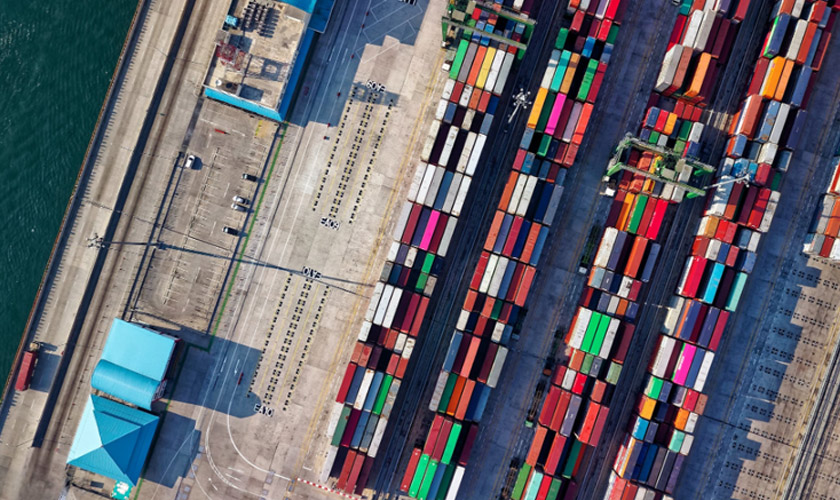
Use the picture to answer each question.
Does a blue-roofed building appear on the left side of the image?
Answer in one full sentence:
Yes, you'll find a blue-roofed building on the left side of the image.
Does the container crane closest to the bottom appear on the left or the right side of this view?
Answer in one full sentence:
It is on the right.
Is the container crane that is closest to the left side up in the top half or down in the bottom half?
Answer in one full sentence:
You can find the container crane that is closest to the left side in the top half.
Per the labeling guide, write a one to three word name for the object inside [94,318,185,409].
shed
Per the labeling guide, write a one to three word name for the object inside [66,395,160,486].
building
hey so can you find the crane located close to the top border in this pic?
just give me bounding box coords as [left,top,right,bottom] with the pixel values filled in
[439,0,538,74]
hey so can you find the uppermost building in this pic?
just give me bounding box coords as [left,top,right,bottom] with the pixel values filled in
[202,0,336,121]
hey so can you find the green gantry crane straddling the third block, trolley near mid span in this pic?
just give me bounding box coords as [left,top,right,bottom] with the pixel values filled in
[600,138,716,207]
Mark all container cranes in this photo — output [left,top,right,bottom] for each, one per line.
[600,138,716,207]
[439,0,538,74]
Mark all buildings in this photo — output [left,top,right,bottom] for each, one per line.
[202,0,336,121]
[94,318,185,409]
[66,395,160,486]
